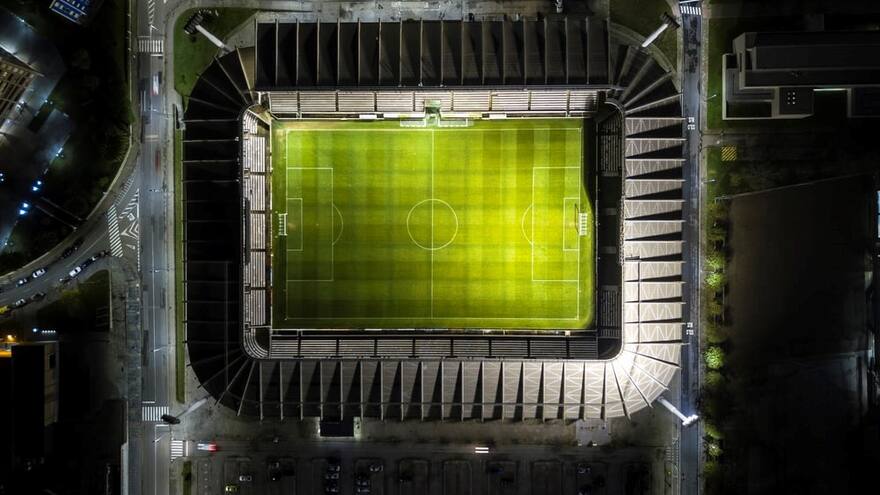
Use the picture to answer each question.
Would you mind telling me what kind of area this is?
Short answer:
sports ground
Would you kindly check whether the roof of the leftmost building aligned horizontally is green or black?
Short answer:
black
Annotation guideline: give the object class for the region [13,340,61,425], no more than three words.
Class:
building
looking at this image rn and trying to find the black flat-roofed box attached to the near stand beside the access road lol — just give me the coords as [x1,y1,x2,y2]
[319,418,361,437]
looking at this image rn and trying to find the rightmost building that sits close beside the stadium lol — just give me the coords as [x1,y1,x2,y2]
[720,33,880,120]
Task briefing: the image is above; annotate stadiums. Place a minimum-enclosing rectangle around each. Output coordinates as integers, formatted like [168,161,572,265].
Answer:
[180,18,688,422]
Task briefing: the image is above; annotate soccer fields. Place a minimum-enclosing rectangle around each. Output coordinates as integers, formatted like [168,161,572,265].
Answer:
[272,119,596,331]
